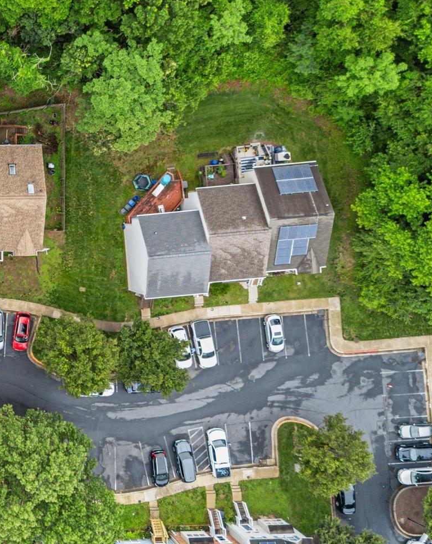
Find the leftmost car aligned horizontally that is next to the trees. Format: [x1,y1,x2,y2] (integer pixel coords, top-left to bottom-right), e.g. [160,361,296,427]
[76,380,114,399]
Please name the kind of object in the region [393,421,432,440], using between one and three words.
car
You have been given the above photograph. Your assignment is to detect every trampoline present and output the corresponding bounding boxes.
[132,173,156,191]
